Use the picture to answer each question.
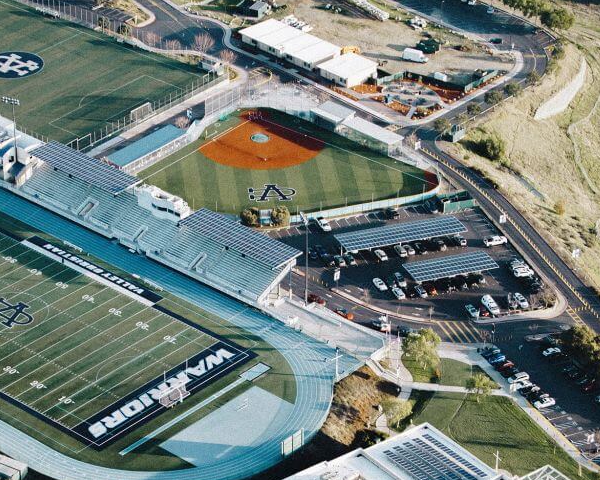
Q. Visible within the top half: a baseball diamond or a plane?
baseball diamond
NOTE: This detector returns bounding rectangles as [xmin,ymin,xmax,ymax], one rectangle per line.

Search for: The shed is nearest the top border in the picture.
[247,0,272,19]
